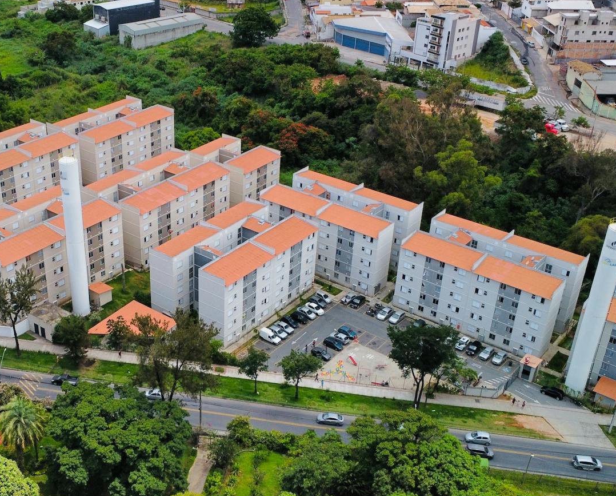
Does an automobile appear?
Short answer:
Yes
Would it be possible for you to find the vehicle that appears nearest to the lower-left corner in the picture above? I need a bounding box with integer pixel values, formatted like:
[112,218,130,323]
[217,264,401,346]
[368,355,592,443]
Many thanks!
[51,373,80,388]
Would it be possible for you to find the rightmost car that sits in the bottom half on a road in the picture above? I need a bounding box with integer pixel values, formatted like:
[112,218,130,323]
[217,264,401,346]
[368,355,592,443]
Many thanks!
[573,455,601,471]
